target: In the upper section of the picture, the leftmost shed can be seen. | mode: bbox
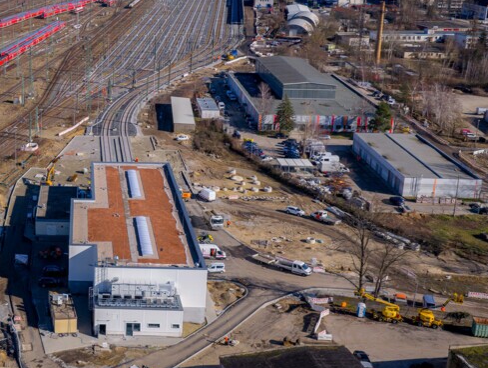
[160,96,197,131]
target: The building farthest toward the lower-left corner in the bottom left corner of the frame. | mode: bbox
[50,286,77,334]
